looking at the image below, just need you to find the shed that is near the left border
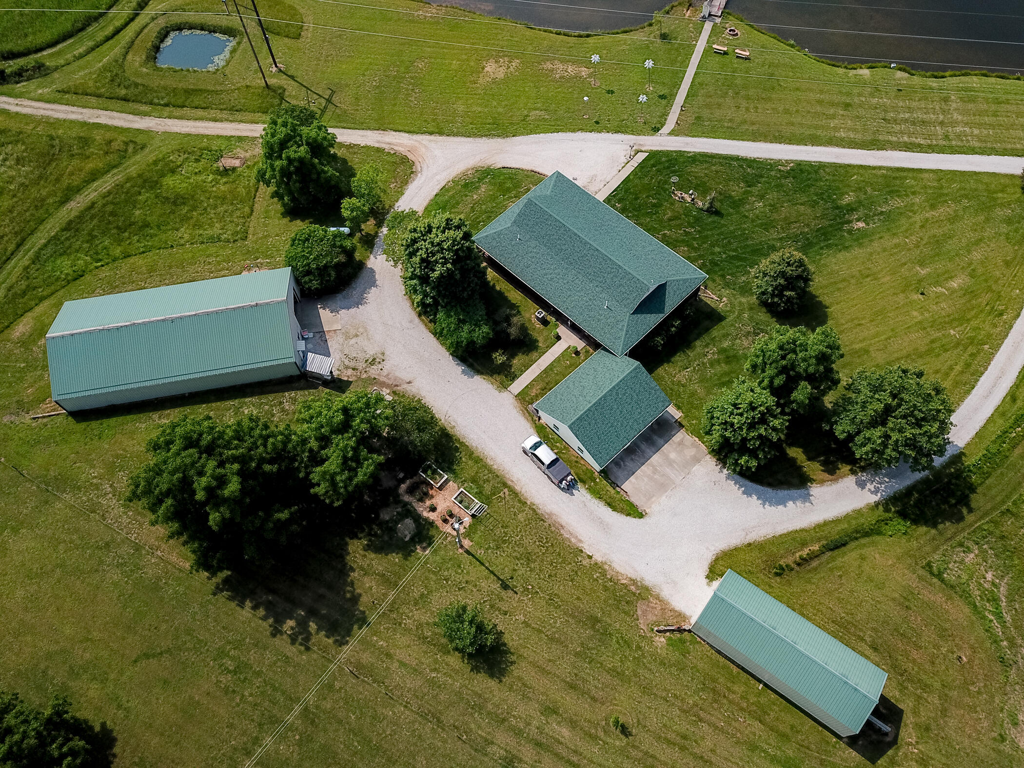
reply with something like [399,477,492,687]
[46,268,305,414]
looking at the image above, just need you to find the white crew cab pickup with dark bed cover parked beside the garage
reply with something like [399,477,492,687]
[520,435,571,488]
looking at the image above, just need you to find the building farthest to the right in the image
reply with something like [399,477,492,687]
[687,569,888,737]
